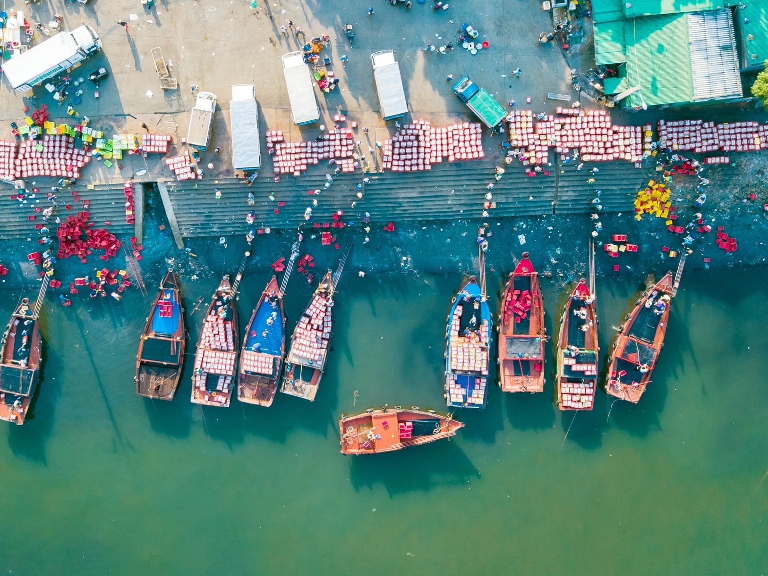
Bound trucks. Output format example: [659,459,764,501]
[187,91,223,158]
[366,50,409,129]
[2,23,111,94]
[447,74,507,137]
[277,51,322,136]
[226,85,263,176]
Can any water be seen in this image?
Yes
